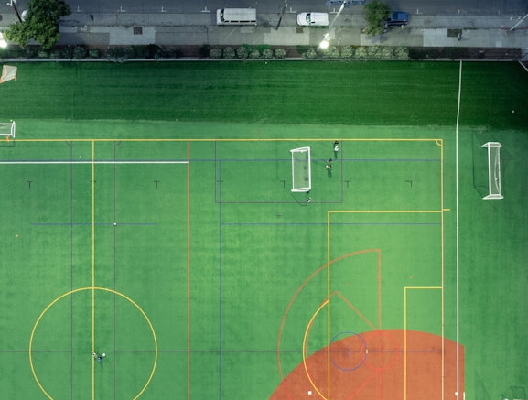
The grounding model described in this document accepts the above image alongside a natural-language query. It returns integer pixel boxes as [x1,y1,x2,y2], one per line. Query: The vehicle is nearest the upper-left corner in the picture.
[216,8,256,27]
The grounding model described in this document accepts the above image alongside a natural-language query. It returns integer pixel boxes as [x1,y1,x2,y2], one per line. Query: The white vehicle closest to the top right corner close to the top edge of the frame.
[296,11,328,28]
